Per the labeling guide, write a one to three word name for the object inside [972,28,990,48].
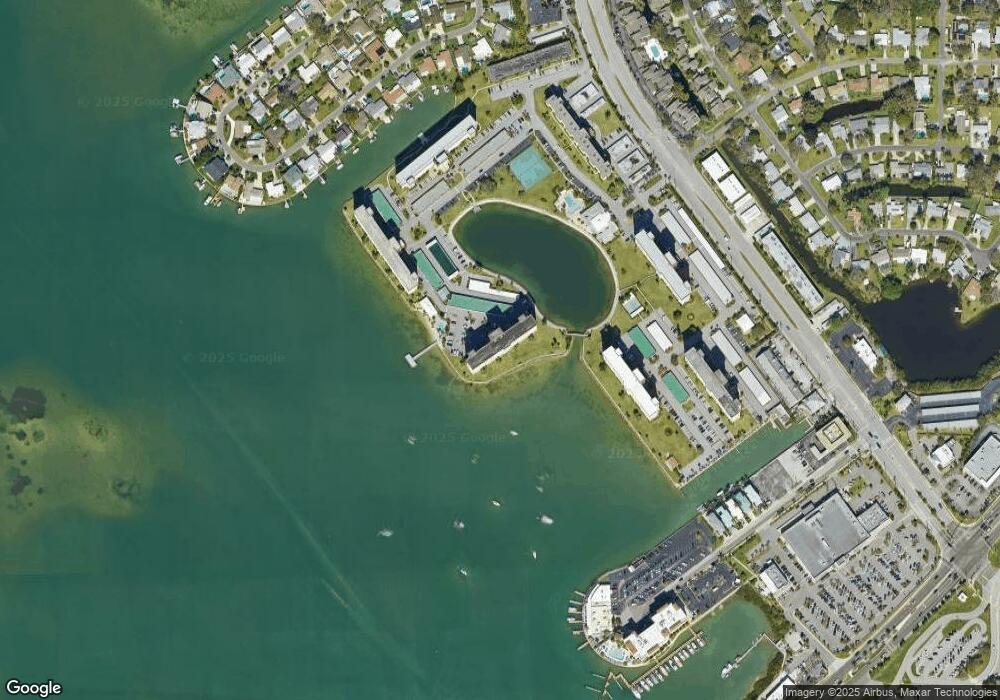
house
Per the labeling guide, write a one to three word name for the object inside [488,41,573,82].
building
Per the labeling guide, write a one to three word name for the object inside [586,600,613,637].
building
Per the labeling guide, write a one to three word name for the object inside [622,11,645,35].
house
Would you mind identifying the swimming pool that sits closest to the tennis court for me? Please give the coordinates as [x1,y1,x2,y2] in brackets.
[555,189,585,214]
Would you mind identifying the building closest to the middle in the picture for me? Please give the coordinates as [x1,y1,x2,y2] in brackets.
[467,312,538,376]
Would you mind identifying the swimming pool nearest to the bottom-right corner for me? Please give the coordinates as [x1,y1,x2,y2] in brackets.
[589,638,627,663]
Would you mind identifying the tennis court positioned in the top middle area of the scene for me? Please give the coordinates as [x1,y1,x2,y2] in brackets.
[509,144,553,190]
